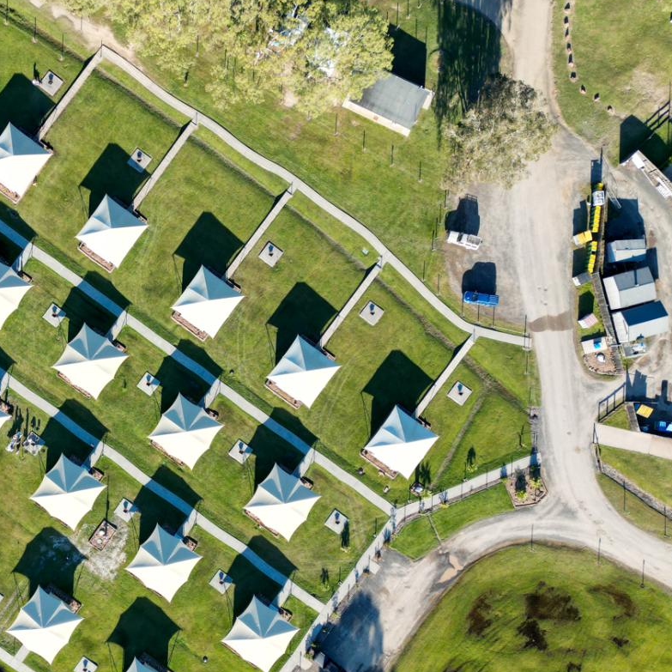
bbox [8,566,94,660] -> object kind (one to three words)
tent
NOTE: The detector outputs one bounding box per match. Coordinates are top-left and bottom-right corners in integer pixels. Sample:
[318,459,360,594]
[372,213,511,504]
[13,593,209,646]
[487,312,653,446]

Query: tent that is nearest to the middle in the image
[252,327,338,419]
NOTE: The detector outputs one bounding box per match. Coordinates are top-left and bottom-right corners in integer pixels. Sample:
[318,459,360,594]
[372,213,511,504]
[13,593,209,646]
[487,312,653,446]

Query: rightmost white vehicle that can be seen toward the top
[445,232,482,248]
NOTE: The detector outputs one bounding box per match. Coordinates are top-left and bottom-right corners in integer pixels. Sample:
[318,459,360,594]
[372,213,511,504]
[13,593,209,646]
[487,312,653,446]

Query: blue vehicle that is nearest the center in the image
[464,292,498,306]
